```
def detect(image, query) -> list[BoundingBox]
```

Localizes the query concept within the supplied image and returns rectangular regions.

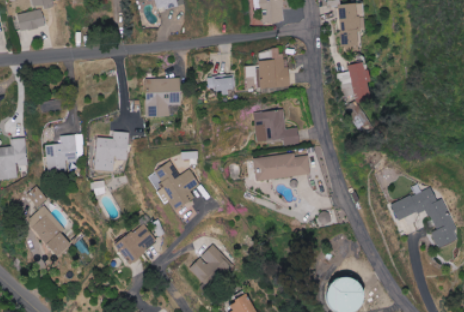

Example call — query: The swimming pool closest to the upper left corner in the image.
[144,3,158,25]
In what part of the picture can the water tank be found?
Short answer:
bottom right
